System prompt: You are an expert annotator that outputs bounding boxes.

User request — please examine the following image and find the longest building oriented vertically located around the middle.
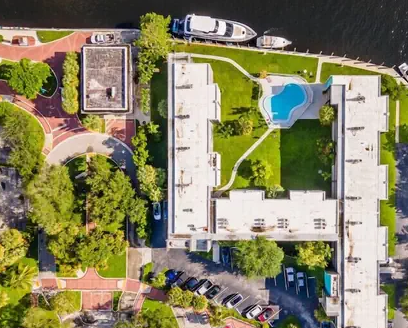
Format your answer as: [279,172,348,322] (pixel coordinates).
[167,53,219,251]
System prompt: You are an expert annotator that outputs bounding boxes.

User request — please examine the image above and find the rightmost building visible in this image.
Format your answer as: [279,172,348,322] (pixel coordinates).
[321,75,387,328]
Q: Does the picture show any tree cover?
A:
Yes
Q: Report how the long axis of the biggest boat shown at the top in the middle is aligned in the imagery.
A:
from side to side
